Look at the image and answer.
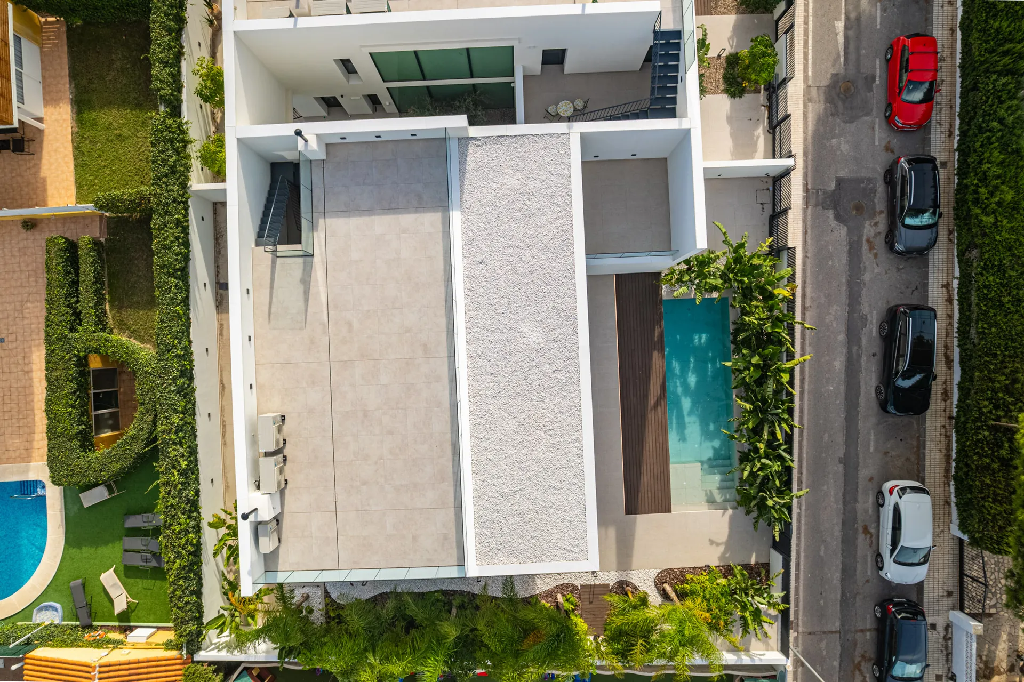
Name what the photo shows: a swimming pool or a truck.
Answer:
swimming pool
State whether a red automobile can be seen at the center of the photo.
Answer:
No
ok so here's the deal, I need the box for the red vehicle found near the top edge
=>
[882,34,941,134]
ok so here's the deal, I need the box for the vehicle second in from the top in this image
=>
[879,154,941,259]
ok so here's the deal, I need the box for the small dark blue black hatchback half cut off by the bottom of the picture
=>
[871,595,929,682]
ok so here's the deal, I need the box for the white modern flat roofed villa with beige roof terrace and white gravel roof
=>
[222,0,707,596]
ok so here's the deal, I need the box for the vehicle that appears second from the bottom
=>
[873,479,933,580]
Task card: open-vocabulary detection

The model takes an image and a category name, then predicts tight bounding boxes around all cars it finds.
[879,154,941,259]
[882,34,941,134]
[875,304,938,418]
[871,595,929,682]
[873,479,933,580]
